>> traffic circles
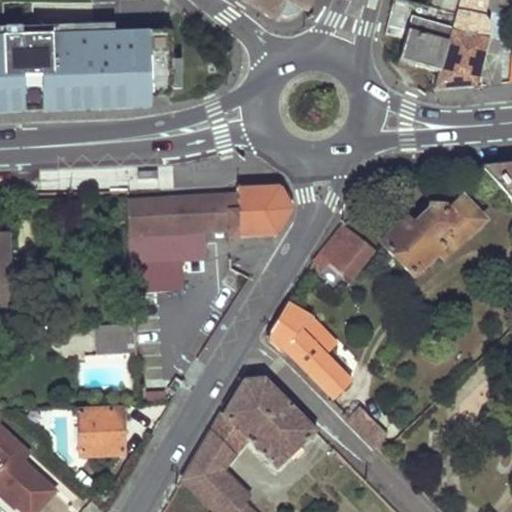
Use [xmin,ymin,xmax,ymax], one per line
[238,31,390,187]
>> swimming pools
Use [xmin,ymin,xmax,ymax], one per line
[53,416,70,462]
[82,364,128,390]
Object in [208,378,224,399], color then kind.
white car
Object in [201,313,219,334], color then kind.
white car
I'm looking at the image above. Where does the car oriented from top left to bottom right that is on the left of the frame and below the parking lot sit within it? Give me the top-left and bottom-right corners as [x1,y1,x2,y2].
[130,408,151,428]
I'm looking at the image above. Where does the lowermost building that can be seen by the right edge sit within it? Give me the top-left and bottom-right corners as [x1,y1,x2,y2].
[388,192,492,279]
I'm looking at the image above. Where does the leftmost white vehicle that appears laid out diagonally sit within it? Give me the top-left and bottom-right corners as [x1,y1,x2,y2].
[168,442,186,465]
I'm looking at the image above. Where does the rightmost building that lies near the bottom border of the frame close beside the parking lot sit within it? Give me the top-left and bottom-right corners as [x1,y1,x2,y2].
[182,376,318,512]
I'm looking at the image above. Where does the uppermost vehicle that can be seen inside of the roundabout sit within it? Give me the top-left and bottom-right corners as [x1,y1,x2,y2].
[278,63,298,75]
